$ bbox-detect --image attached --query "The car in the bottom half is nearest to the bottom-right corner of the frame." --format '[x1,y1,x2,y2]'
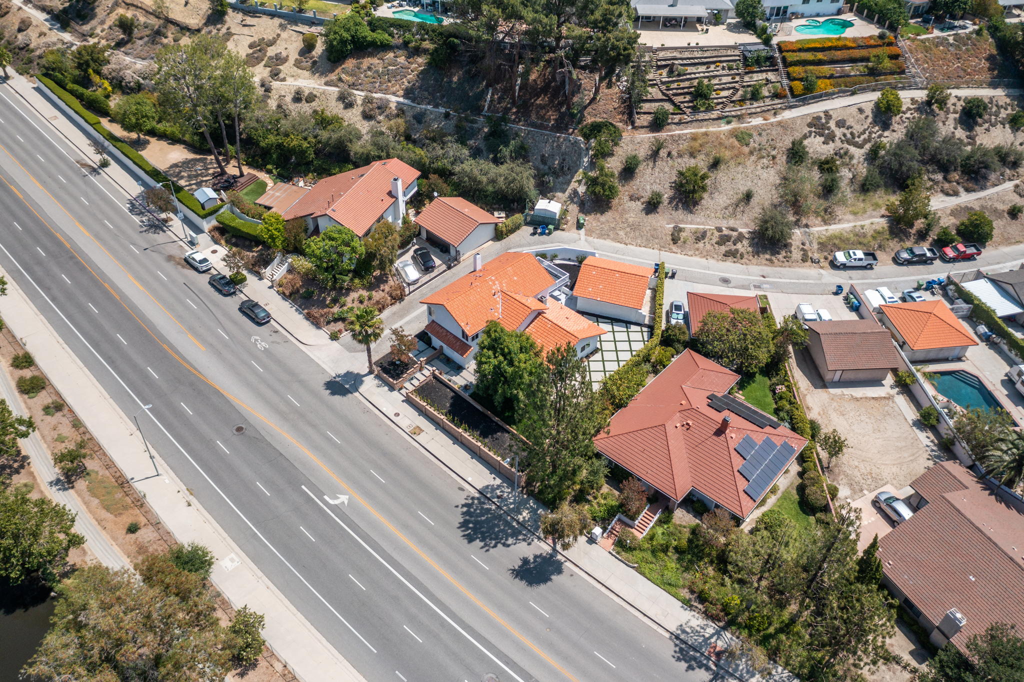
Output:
[875,490,919,528]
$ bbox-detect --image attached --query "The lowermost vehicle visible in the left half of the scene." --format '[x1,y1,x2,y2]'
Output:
[238,299,272,327]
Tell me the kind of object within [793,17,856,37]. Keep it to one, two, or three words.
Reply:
swimming pool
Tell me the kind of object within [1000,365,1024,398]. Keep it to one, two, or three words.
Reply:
camper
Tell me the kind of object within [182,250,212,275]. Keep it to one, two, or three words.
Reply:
car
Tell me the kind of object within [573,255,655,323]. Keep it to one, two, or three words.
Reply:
building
